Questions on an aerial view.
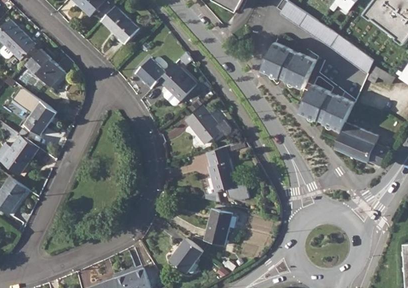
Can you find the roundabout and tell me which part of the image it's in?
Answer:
bottom right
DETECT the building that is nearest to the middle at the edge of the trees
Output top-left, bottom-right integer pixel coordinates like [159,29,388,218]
[186,104,232,150]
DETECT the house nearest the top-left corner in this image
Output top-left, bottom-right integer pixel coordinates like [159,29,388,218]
[0,19,38,61]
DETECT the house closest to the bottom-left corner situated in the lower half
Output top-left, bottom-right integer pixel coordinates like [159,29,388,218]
[0,176,32,217]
